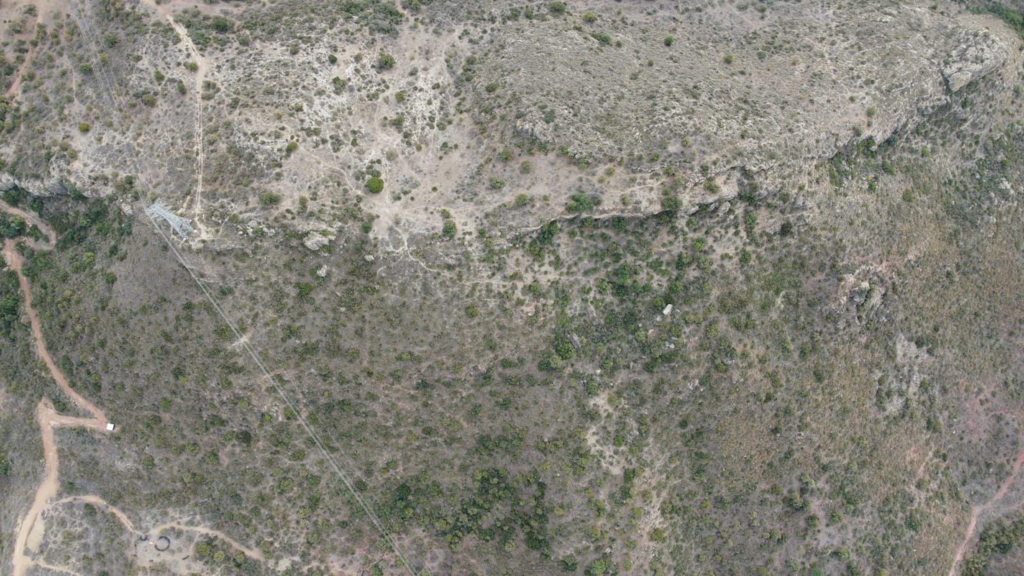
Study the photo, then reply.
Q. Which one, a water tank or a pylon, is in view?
pylon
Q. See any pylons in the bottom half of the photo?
No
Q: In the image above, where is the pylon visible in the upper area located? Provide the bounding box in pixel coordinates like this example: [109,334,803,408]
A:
[147,206,198,240]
